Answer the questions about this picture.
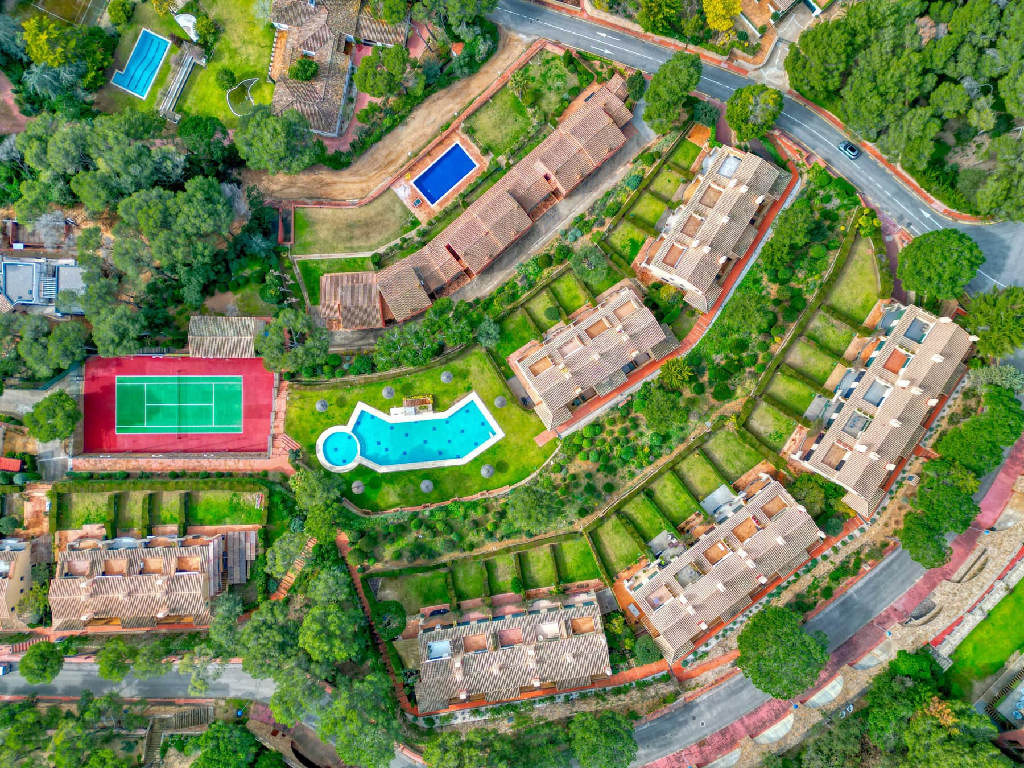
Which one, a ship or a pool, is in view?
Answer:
pool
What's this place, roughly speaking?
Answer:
residential area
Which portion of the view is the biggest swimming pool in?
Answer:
center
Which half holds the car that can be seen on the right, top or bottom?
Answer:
top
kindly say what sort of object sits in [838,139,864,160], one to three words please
car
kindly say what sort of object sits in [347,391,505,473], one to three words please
swimming pool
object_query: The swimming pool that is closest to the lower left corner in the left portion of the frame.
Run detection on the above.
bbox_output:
[315,425,360,473]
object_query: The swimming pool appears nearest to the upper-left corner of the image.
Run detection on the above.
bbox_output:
[110,28,171,100]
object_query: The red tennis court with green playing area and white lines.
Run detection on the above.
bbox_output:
[83,357,273,453]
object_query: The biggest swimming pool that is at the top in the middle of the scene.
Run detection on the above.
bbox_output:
[410,140,480,207]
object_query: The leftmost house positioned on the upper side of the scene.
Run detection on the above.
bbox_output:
[0,263,98,315]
